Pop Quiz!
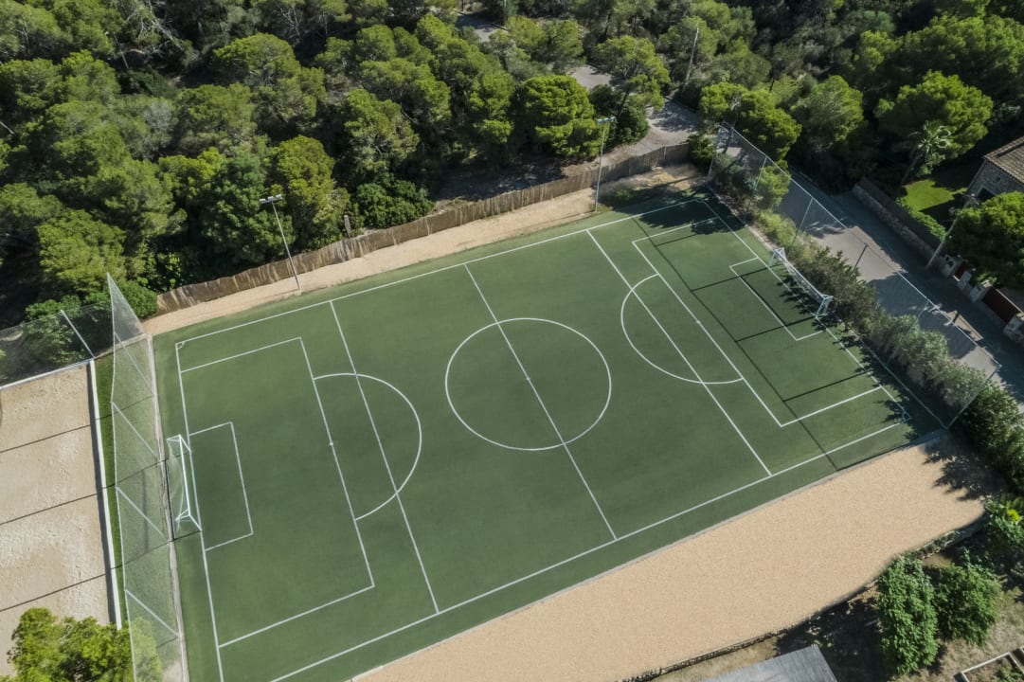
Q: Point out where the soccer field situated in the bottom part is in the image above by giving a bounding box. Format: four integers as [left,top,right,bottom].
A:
[152,179,947,682]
